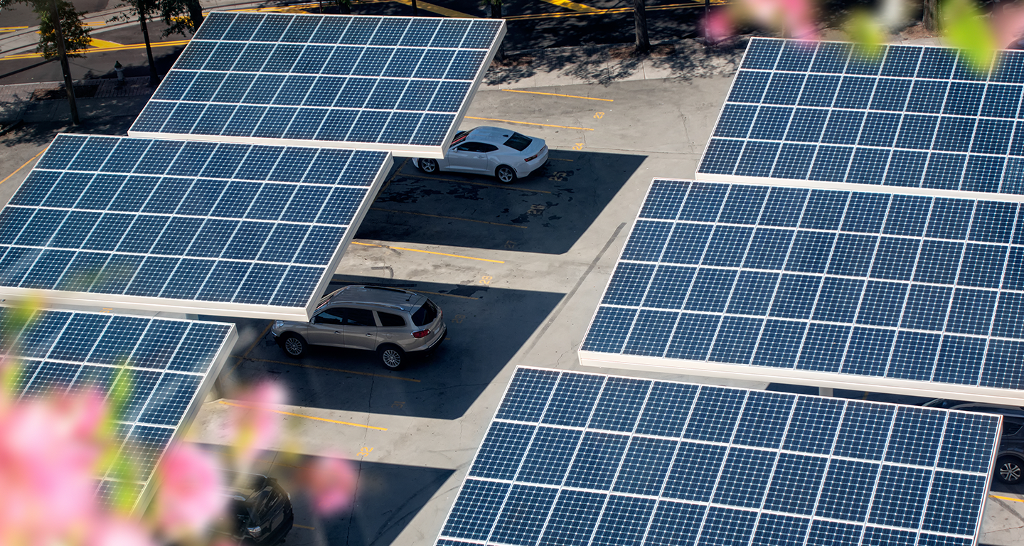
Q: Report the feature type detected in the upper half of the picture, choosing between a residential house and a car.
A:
car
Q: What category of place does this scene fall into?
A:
solar farm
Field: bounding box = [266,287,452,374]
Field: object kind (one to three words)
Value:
car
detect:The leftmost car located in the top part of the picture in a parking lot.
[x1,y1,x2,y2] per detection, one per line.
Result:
[405,125,553,184]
